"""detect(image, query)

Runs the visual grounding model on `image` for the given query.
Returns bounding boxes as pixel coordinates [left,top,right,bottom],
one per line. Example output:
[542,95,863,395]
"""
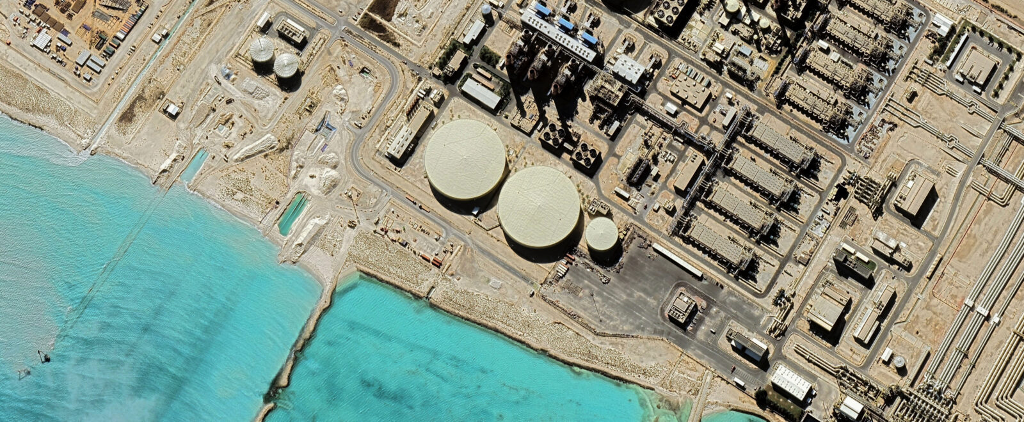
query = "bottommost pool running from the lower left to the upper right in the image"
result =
[277,193,309,236]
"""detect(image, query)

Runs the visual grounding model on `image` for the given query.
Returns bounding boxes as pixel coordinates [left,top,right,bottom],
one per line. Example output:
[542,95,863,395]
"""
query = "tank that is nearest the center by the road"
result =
[497,166,580,250]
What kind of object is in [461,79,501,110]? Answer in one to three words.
building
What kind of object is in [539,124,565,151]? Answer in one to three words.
cooling tower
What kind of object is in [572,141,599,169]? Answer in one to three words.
cooling tower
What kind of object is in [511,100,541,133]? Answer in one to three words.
building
